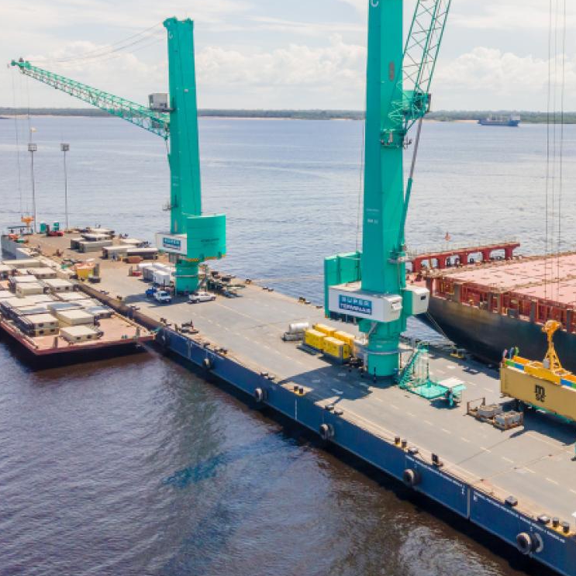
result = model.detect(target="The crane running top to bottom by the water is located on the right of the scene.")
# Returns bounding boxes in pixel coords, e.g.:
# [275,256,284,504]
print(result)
[318,0,453,377]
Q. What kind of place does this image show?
port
